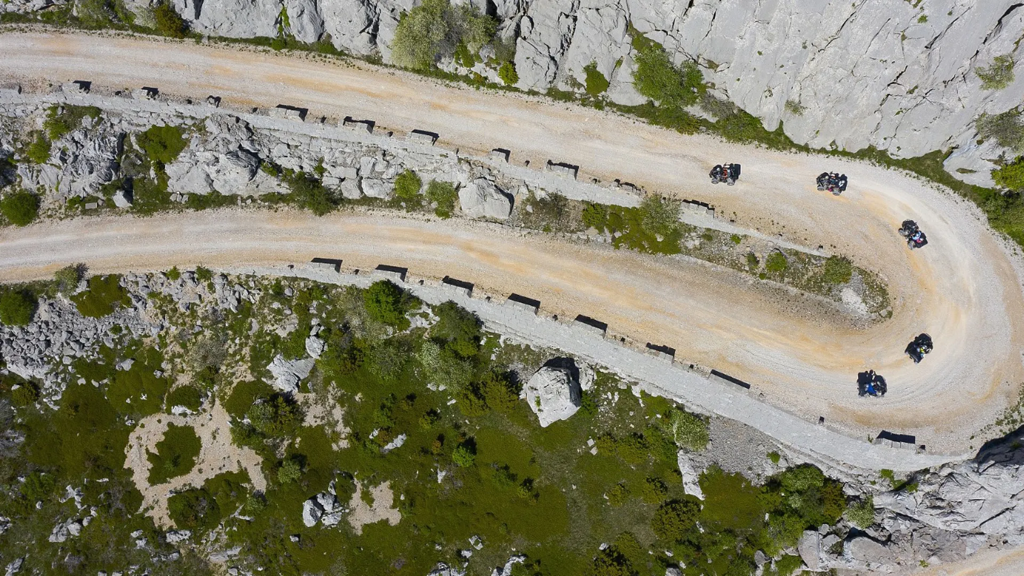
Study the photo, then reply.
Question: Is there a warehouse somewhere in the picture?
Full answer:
No, I can see no warehouse in this picture.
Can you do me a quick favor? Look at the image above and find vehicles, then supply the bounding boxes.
[712,167,740,186]
[857,379,890,400]
[819,175,849,197]
[900,224,929,252]
[906,335,936,365]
